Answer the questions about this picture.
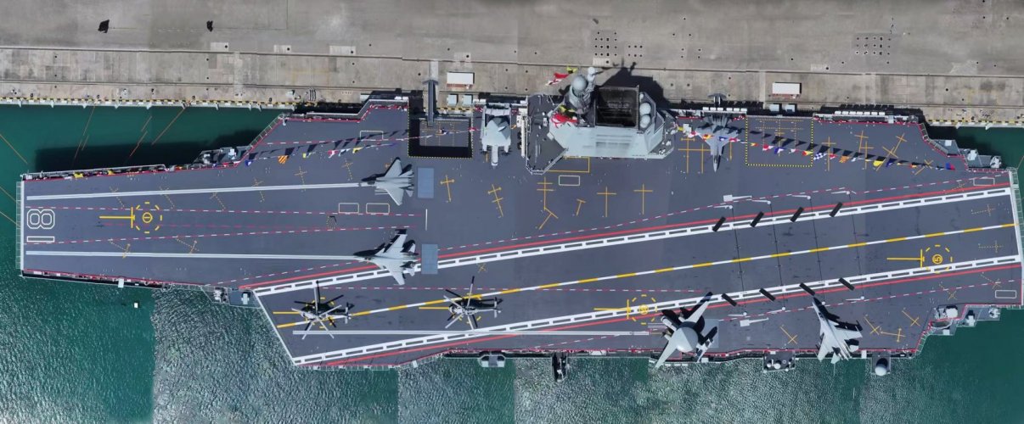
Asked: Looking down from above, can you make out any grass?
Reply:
No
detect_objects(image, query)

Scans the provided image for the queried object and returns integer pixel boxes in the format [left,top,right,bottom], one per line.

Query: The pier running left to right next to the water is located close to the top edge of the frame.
[0,0,1024,135]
